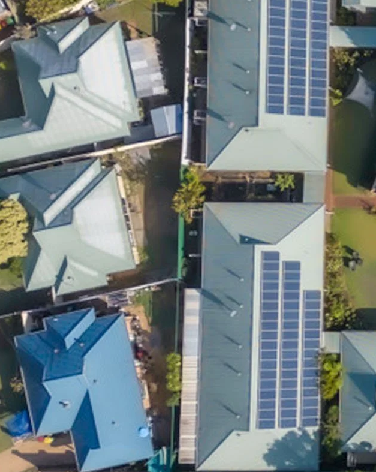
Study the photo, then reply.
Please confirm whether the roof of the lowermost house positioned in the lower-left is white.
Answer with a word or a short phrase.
No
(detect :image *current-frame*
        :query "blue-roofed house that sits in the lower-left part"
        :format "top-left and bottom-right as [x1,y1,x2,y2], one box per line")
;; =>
[15,308,157,472]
